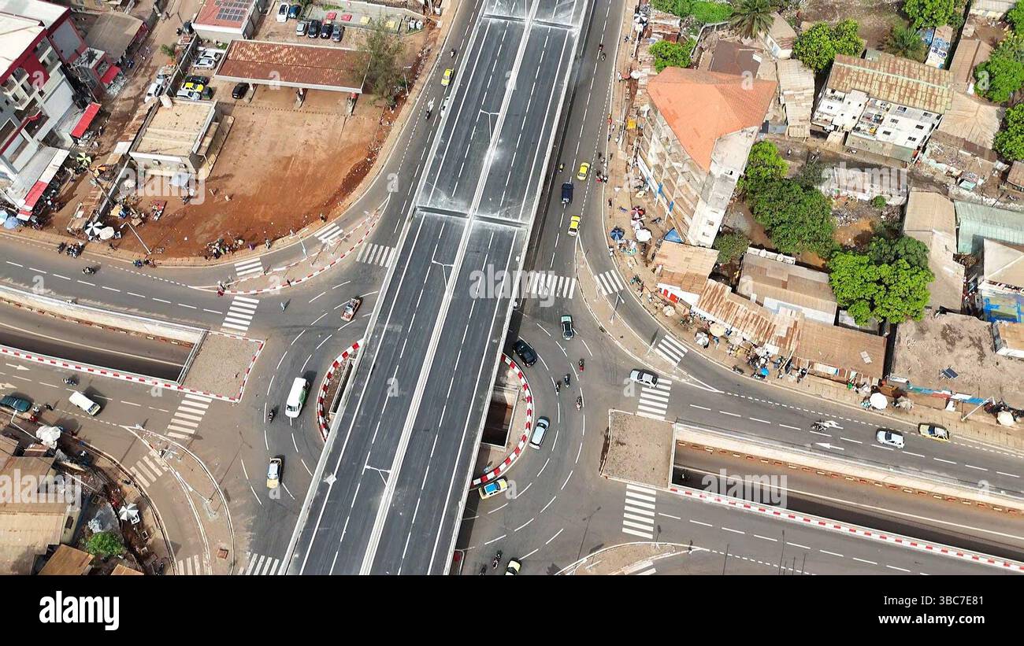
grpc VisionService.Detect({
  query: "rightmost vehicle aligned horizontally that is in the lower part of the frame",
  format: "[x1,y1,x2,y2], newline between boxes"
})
[918,424,948,440]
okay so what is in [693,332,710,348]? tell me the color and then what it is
white umbrella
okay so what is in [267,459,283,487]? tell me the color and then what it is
white car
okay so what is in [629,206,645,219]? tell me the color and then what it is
red umbrella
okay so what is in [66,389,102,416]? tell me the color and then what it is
white vehicle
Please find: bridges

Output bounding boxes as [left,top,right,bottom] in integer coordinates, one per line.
[253,0,593,646]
